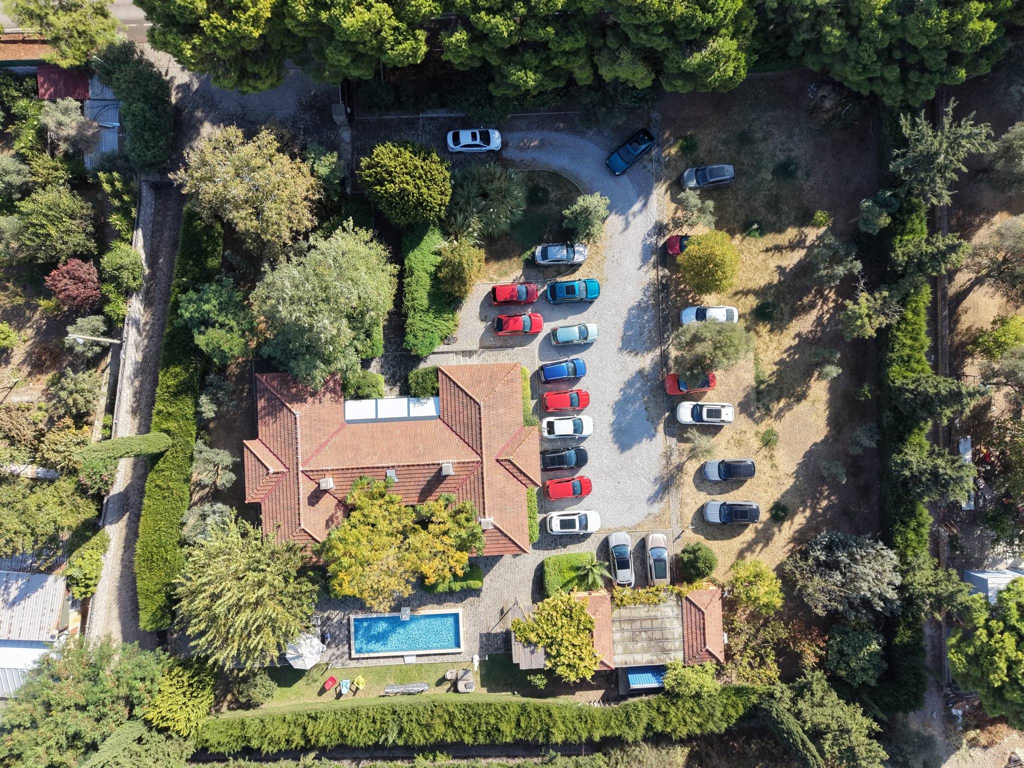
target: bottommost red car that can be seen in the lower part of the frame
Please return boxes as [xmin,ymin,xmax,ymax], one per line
[545,475,592,501]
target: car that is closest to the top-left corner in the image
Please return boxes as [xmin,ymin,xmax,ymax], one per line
[447,128,501,155]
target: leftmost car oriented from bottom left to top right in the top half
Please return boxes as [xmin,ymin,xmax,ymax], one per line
[605,129,655,179]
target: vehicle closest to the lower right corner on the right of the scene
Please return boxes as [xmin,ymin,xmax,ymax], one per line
[701,500,759,528]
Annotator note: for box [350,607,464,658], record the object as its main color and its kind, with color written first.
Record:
blue swimming pool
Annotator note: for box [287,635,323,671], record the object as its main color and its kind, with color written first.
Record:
white umbrella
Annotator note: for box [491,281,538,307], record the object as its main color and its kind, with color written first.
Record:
red car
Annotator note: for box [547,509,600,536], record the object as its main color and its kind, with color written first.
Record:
white car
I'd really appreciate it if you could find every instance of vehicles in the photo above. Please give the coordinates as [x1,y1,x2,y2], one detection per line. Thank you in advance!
[541,414,594,440]
[539,357,586,383]
[540,444,591,471]
[494,311,543,337]
[605,129,655,179]
[547,277,600,304]
[608,529,636,586]
[550,320,598,346]
[542,387,590,413]
[666,233,695,259]
[644,530,670,585]
[535,241,587,267]
[545,475,592,501]
[701,500,759,528]
[700,457,756,485]
[680,302,737,328]
[547,509,600,536]
[447,128,501,155]
[491,281,538,307]
[675,400,734,428]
